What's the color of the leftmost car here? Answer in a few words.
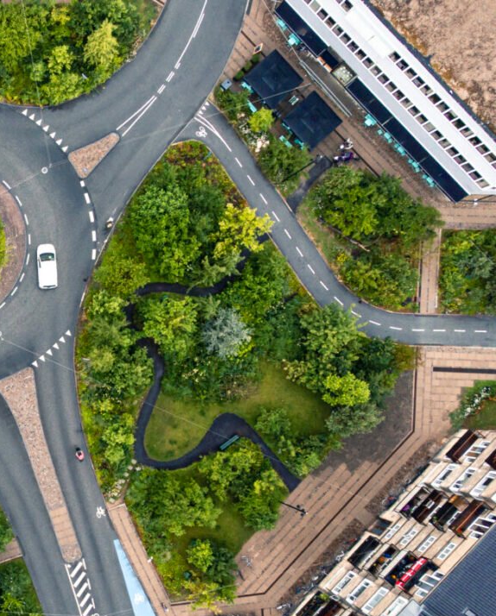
white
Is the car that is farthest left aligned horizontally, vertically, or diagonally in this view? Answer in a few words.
vertically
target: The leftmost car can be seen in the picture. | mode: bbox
[36,245,59,289]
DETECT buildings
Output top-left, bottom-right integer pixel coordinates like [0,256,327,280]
[257,0,496,201]
[284,427,496,616]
